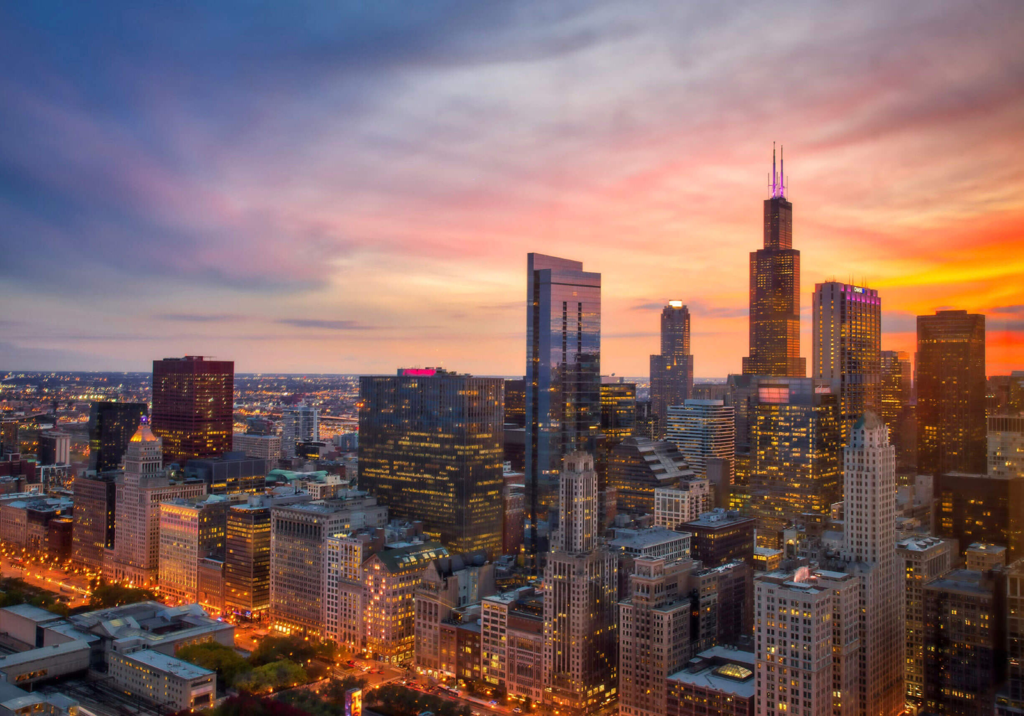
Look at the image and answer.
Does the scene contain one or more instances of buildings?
Yes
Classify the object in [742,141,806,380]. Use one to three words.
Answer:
building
